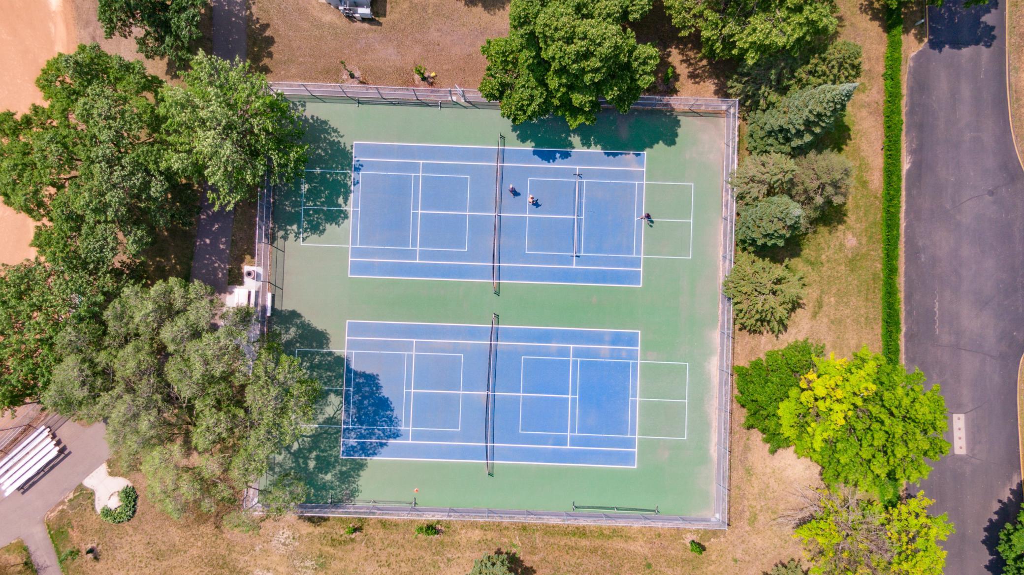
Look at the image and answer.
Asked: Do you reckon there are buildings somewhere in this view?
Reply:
No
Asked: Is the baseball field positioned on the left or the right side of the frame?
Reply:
left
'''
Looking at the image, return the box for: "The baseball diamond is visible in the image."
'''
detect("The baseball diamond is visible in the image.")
[0,0,75,437]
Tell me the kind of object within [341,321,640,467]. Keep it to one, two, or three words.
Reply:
tennis court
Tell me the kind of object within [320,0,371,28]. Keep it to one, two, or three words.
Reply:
trailer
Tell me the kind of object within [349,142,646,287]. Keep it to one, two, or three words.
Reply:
tennis court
